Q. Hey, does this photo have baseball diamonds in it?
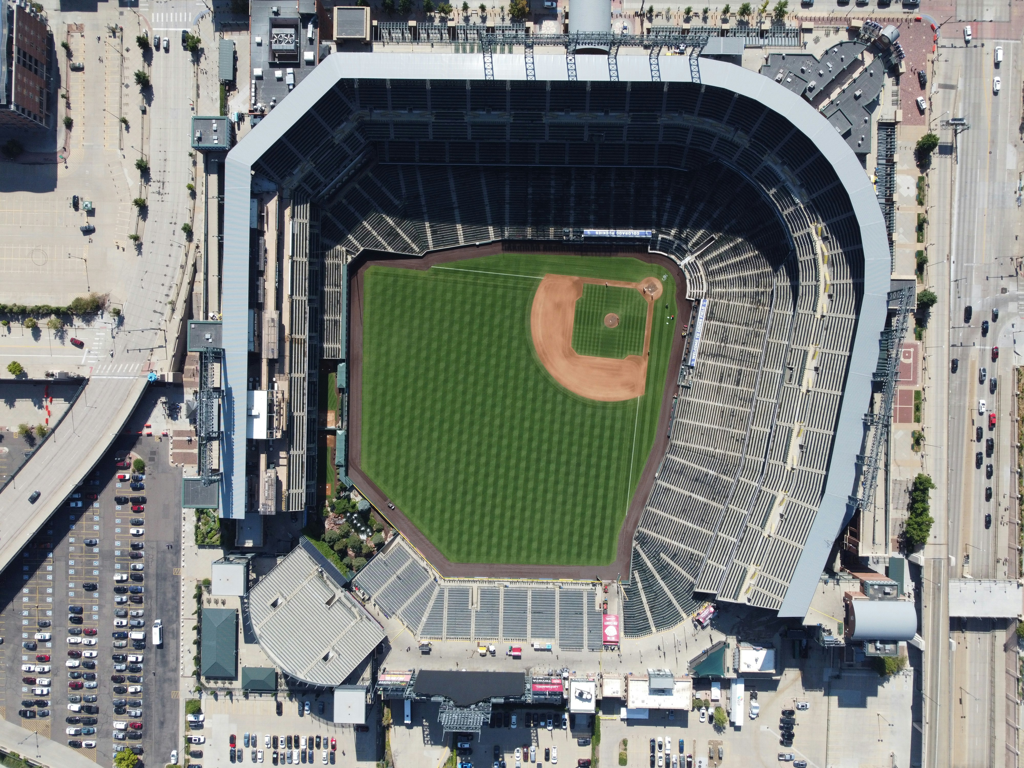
Yes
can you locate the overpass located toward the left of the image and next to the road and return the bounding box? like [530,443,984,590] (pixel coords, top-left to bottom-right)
[0,381,150,572]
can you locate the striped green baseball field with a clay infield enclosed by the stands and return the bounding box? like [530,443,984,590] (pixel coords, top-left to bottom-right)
[344,238,700,581]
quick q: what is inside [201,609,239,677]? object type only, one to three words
building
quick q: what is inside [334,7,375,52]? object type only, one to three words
building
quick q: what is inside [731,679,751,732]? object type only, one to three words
trailer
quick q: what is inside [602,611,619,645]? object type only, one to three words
vehicle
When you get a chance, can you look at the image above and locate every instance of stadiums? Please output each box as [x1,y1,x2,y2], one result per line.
[219,52,891,638]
